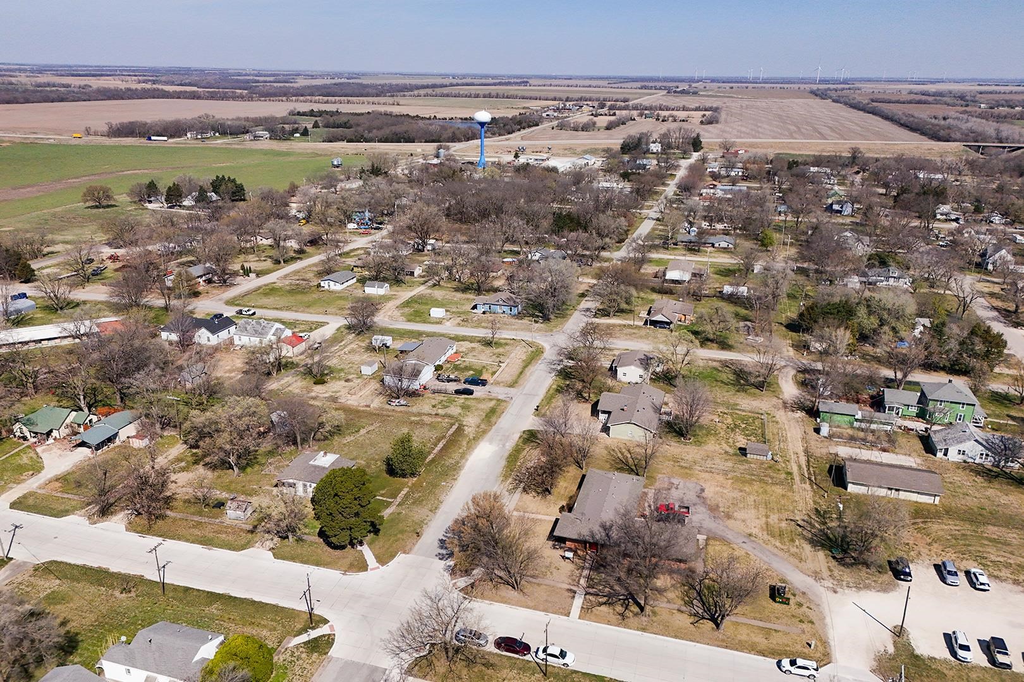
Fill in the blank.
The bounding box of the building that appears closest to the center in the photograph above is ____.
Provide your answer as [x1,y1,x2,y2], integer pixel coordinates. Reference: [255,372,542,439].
[470,293,528,315]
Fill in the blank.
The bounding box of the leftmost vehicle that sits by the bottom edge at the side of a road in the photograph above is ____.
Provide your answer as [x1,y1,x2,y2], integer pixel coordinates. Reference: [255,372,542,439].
[452,625,489,648]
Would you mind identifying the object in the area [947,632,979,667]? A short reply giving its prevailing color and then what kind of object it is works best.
white car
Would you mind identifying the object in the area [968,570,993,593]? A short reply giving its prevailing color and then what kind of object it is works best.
white car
